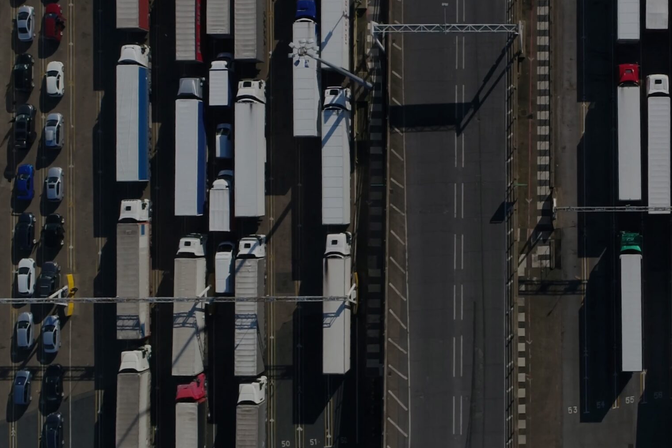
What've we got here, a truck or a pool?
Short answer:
truck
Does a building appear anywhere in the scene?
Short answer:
No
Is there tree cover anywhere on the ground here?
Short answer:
No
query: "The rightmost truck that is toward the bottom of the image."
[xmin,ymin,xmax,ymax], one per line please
[617,227,643,372]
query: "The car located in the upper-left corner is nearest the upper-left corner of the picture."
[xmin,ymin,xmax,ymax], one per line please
[15,6,36,41]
